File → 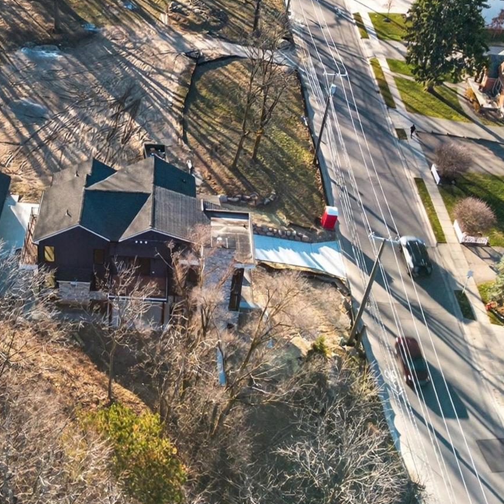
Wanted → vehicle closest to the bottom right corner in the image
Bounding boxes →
[396,332,435,394]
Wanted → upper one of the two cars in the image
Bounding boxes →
[401,231,435,282]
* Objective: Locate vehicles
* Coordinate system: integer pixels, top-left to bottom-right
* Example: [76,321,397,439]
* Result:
[396,332,435,394]
[401,231,435,282]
